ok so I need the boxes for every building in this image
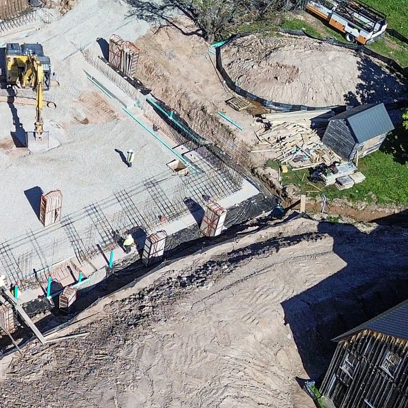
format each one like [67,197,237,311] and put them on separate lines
[321,105,398,170]
[320,296,408,408]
